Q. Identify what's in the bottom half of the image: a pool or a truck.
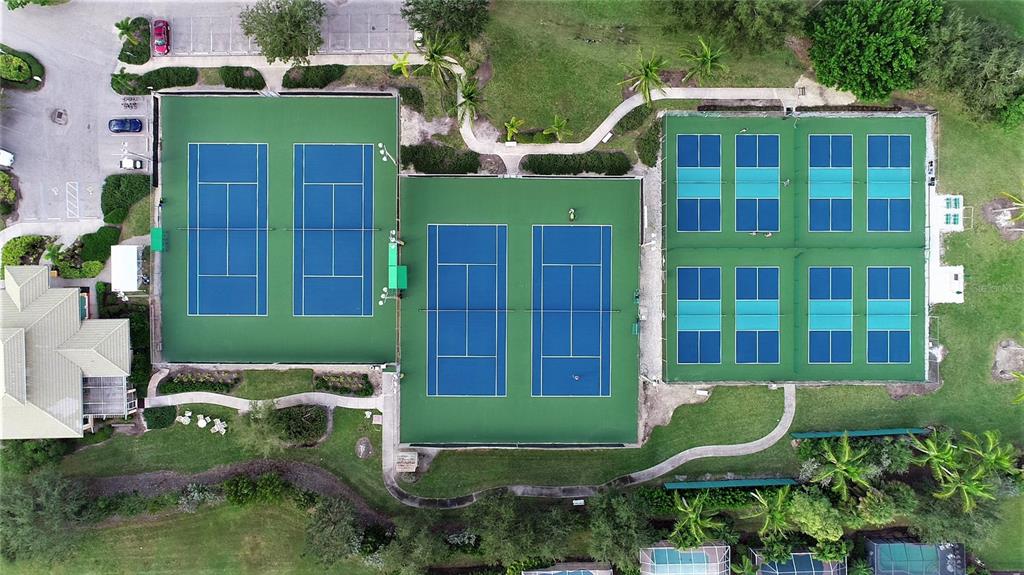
pool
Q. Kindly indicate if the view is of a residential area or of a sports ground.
sports ground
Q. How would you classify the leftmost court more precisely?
tennis court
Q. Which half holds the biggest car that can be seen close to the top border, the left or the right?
left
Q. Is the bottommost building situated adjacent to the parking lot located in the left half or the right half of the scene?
left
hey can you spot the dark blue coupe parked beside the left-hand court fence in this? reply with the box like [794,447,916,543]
[108,117,143,133]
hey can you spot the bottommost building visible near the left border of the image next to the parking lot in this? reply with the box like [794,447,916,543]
[0,264,147,439]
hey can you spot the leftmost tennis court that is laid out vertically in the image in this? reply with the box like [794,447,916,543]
[161,95,281,363]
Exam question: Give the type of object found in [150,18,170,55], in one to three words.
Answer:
car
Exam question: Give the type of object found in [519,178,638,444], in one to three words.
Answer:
tennis court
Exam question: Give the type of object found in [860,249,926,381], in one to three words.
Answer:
sports court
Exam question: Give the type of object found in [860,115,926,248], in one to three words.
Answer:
sports court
